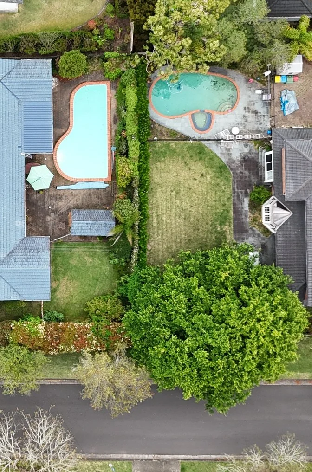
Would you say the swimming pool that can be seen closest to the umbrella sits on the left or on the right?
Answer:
left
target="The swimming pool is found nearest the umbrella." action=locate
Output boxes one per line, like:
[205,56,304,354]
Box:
[52,81,111,182]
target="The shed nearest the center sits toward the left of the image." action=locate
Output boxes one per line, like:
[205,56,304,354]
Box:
[71,210,115,236]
